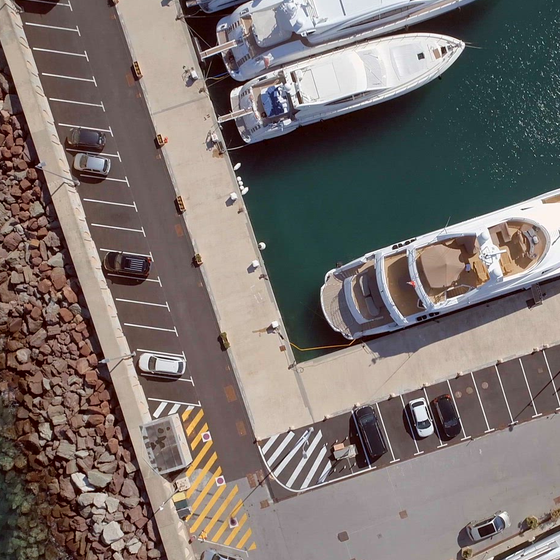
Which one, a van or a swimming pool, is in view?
van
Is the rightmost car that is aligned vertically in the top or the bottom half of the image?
bottom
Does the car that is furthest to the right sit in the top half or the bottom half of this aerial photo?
bottom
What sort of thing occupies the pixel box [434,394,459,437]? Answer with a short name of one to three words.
car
